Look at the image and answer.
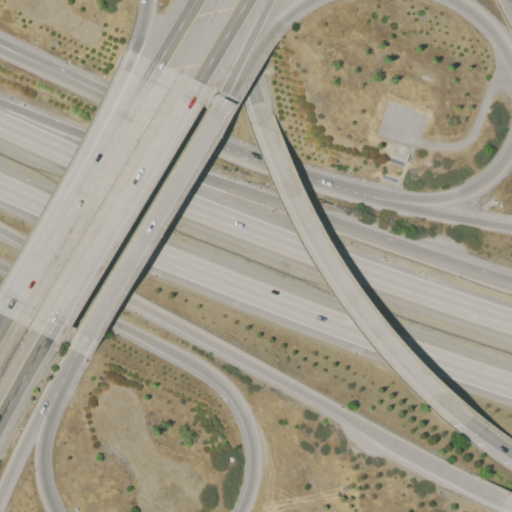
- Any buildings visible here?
No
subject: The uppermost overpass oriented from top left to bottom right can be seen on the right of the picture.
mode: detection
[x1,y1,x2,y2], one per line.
[246,80,512,472]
